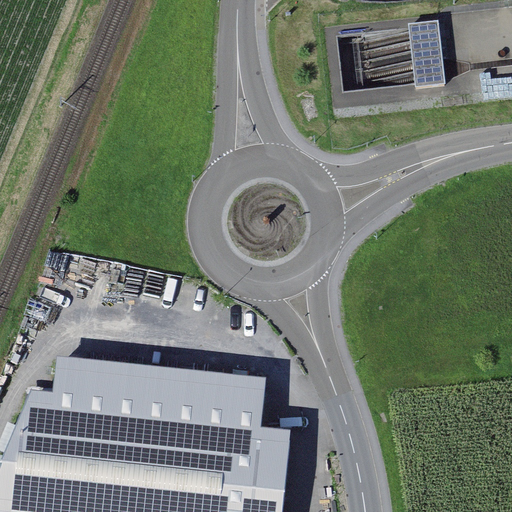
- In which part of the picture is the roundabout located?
center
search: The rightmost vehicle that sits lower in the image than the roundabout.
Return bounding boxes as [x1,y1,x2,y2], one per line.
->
[279,416,309,429]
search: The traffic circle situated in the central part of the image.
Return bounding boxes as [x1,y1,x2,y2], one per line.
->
[188,143,346,301]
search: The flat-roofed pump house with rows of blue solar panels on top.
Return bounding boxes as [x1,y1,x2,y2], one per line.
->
[408,20,445,88]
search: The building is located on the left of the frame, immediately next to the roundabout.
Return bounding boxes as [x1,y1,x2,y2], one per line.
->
[0,356,290,512]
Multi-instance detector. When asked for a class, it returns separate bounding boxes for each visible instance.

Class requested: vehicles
[244,312,255,336]
[194,288,204,312]
[279,416,309,429]
[162,277,178,309]
[230,306,242,330]
[40,288,72,310]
